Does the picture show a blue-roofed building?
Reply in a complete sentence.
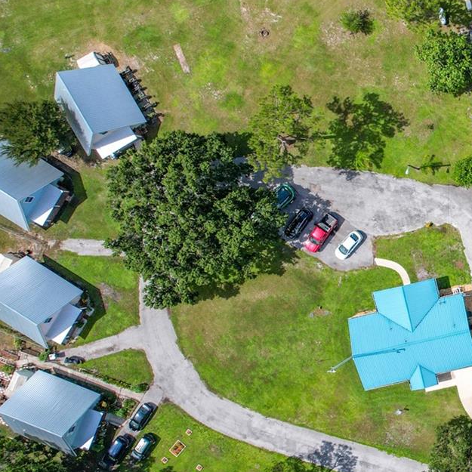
Yes, a blue-roofed building can be made out from above.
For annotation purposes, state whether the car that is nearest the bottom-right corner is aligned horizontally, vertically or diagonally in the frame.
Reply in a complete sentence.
In this picture, the car that is nearest the bottom-right corner lies diagonally.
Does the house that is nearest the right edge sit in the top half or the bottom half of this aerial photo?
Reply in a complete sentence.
The house that is nearest the right edge is in the bottom half of the image.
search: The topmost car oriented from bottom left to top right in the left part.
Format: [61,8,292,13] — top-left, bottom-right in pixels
[131,396,159,430]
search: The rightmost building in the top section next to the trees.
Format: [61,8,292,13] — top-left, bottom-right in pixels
[48,46,150,169]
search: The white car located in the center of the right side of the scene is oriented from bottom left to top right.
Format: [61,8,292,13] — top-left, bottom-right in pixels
[335,228,367,262]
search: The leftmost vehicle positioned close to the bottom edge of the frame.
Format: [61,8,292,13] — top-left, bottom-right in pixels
[104,433,133,468]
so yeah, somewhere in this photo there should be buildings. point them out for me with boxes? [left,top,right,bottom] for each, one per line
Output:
[48,46,150,169]
[348,278,472,391]
[0,360,119,460]
[0,130,81,232]
[0,244,99,350]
